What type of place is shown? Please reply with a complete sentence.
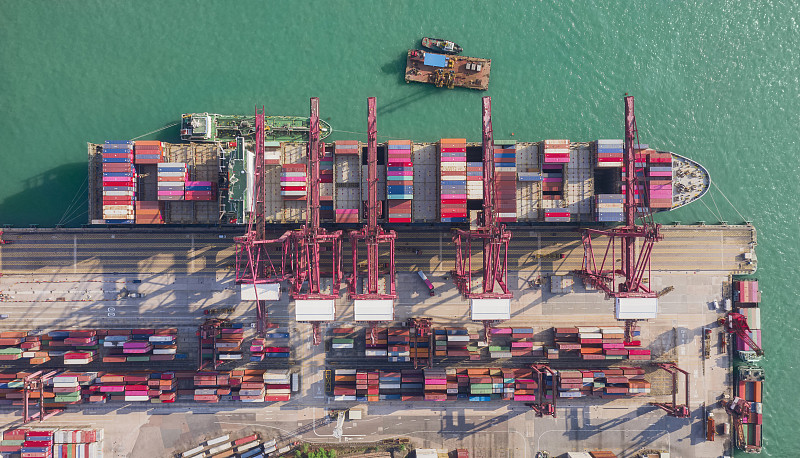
It's a port.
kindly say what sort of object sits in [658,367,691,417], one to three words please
container crane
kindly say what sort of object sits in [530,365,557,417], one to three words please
container crane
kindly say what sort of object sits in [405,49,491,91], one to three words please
ship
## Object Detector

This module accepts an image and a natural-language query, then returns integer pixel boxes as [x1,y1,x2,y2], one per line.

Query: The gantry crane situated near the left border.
[25,371,62,423]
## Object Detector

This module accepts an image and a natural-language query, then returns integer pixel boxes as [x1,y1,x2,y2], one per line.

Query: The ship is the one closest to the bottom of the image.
[734,365,767,453]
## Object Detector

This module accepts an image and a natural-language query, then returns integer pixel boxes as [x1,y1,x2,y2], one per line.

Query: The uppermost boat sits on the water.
[420,38,462,53]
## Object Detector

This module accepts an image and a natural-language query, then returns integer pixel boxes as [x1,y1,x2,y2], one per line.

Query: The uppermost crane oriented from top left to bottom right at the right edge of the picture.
[718,313,760,355]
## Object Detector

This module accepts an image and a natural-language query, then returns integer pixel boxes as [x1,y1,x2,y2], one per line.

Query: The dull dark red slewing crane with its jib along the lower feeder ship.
[721,398,752,452]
